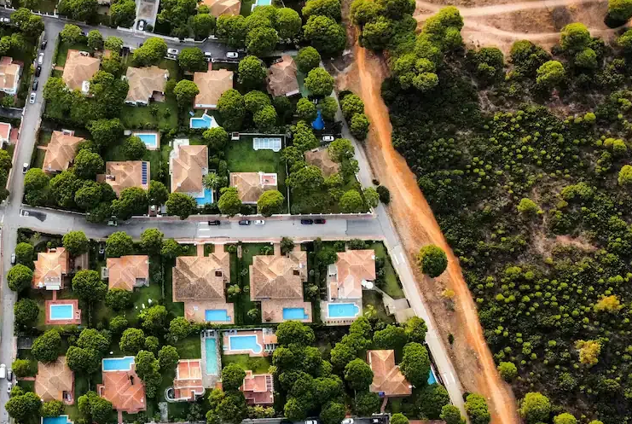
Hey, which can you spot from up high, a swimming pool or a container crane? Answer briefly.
swimming pool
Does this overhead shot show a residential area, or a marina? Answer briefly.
residential area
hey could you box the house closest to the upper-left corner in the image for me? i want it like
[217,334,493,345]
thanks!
[0,55,25,98]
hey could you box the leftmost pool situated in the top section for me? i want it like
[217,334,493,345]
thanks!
[132,129,162,151]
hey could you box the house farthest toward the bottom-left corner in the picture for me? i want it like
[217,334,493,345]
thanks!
[35,355,76,402]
